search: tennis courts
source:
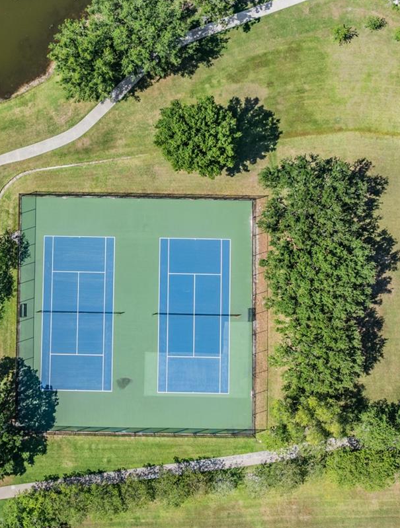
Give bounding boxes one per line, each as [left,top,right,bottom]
[40,236,115,392]
[155,238,239,395]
